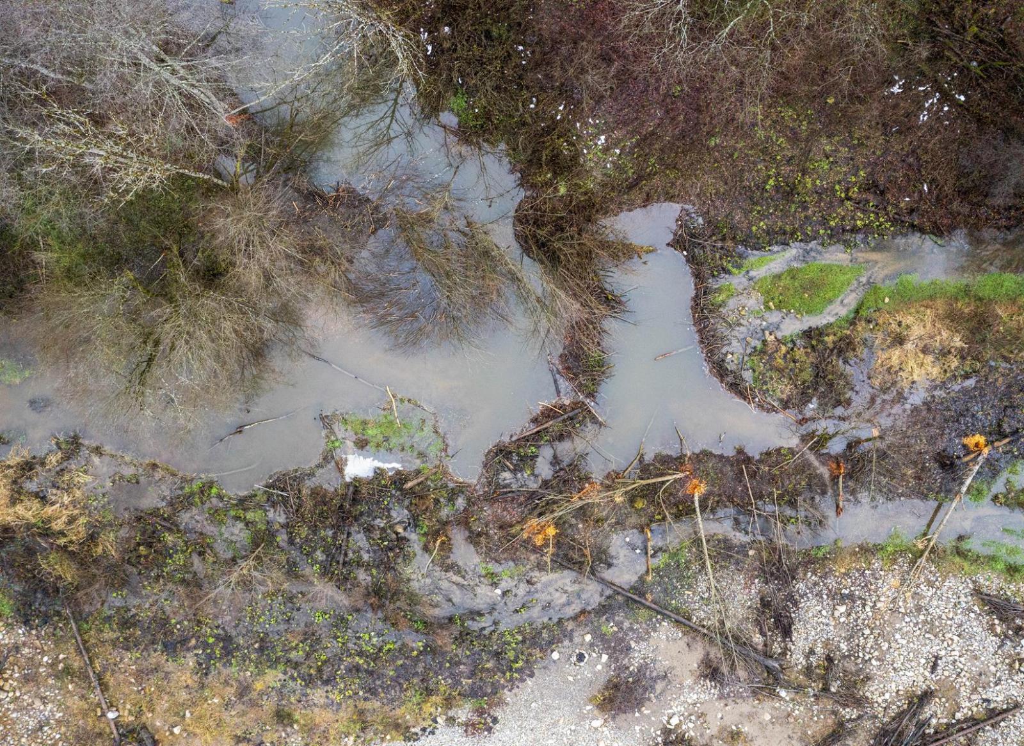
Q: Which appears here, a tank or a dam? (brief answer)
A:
dam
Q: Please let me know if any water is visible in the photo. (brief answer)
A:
Yes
